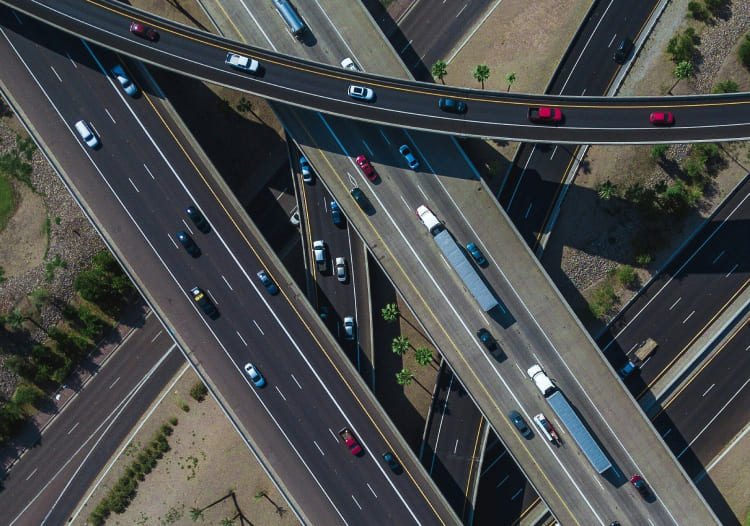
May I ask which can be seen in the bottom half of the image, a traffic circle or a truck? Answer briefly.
truck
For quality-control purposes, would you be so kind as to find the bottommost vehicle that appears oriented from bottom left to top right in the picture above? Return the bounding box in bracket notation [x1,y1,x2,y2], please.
[616,337,656,380]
